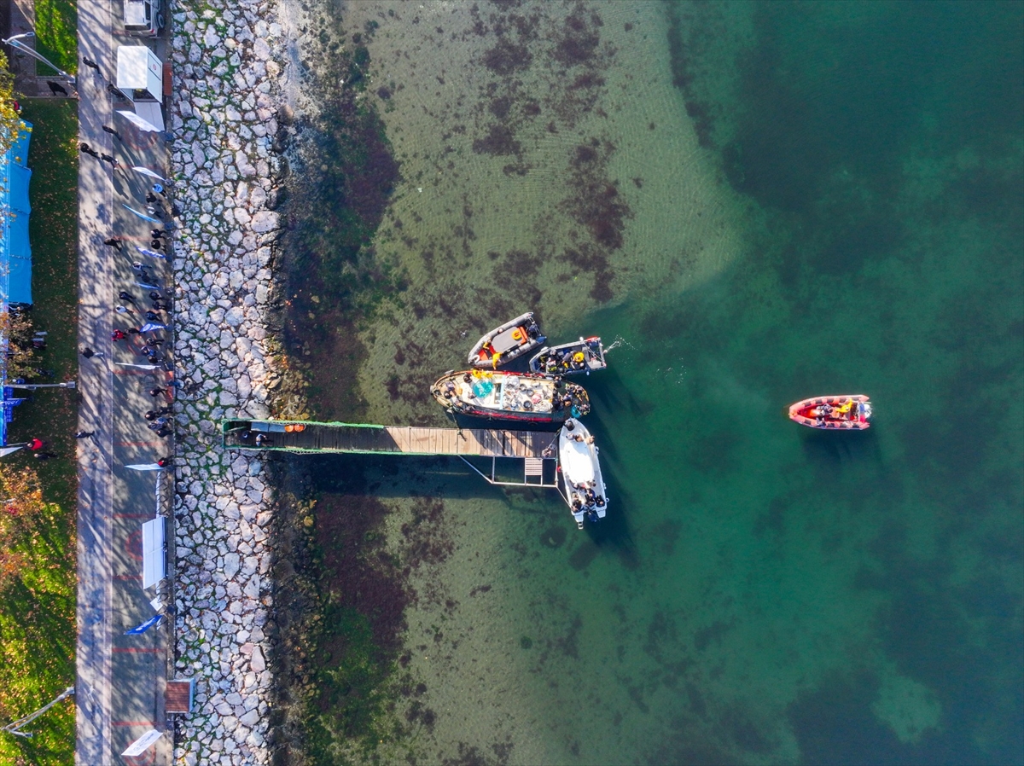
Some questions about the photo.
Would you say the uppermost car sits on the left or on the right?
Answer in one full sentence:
The uppermost car sits on the left side.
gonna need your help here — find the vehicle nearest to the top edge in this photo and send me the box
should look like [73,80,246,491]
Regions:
[127,0,164,39]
